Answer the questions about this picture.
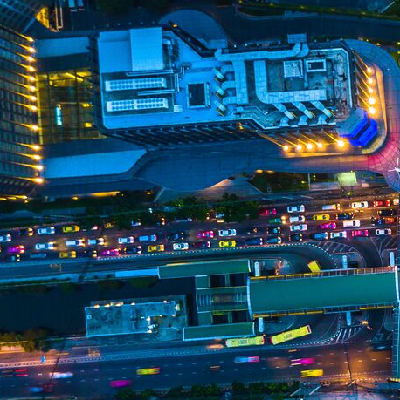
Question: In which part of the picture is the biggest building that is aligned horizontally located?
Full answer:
The biggest building that is aligned horizontally is in the top part of the image.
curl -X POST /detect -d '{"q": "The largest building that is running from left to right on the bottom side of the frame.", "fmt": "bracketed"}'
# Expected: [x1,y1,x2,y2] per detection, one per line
[86,299,183,337]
